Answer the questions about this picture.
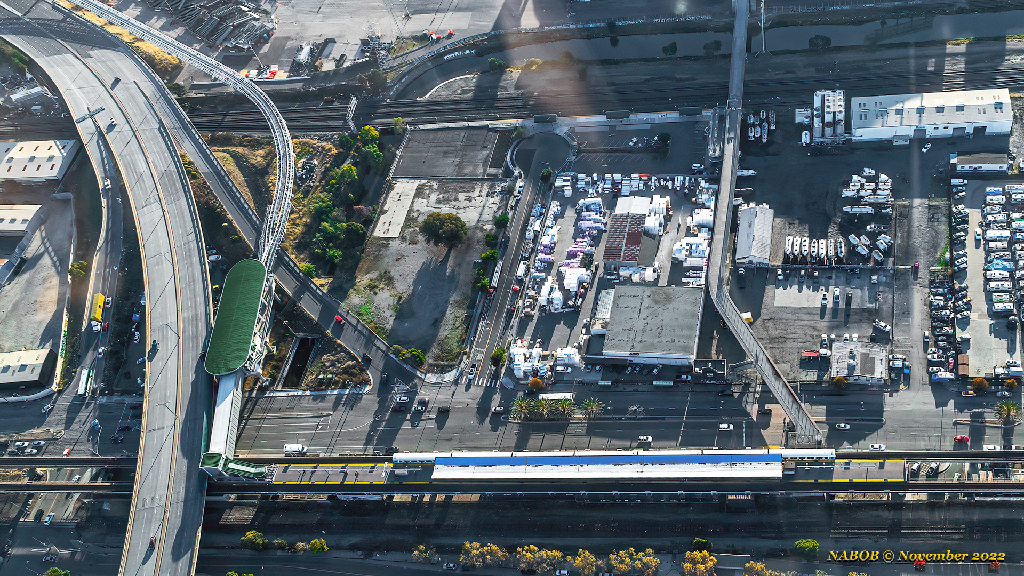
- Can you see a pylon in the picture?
Yes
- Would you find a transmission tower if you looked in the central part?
No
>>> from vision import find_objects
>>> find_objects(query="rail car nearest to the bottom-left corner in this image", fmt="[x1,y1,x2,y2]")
[390,451,449,463]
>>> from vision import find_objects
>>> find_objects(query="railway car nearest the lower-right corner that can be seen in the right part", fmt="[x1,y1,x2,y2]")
[769,449,836,461]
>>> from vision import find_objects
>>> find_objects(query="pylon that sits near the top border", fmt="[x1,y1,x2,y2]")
[352,9,392,73]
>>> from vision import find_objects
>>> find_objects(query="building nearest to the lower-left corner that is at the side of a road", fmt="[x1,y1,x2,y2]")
[0,349,57,389]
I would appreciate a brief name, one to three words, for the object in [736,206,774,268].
shed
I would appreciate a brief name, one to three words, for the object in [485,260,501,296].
vehicle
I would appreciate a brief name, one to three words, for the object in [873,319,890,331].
vehicle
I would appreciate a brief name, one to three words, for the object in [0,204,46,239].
building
